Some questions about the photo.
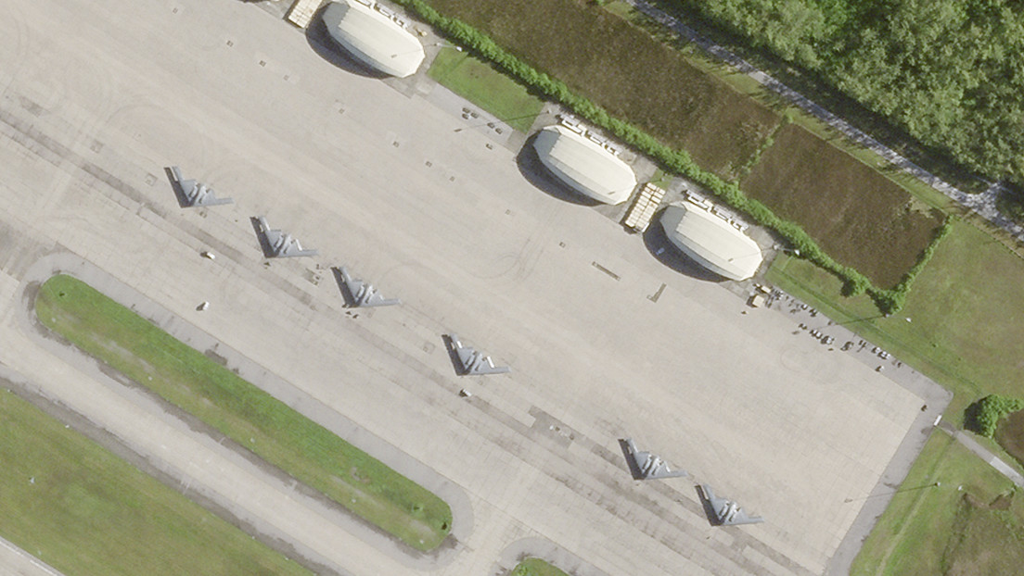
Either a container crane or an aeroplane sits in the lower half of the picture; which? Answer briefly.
aeroplane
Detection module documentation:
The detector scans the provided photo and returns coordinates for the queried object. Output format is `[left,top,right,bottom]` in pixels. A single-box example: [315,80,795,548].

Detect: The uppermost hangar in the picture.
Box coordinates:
[322,0,426,76]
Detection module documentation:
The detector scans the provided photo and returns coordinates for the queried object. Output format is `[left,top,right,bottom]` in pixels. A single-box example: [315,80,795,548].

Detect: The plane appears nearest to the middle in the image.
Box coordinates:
[451,337,512,375]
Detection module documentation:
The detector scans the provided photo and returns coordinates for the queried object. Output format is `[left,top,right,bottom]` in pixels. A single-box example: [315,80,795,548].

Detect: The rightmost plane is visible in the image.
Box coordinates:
[705,487,765,525]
